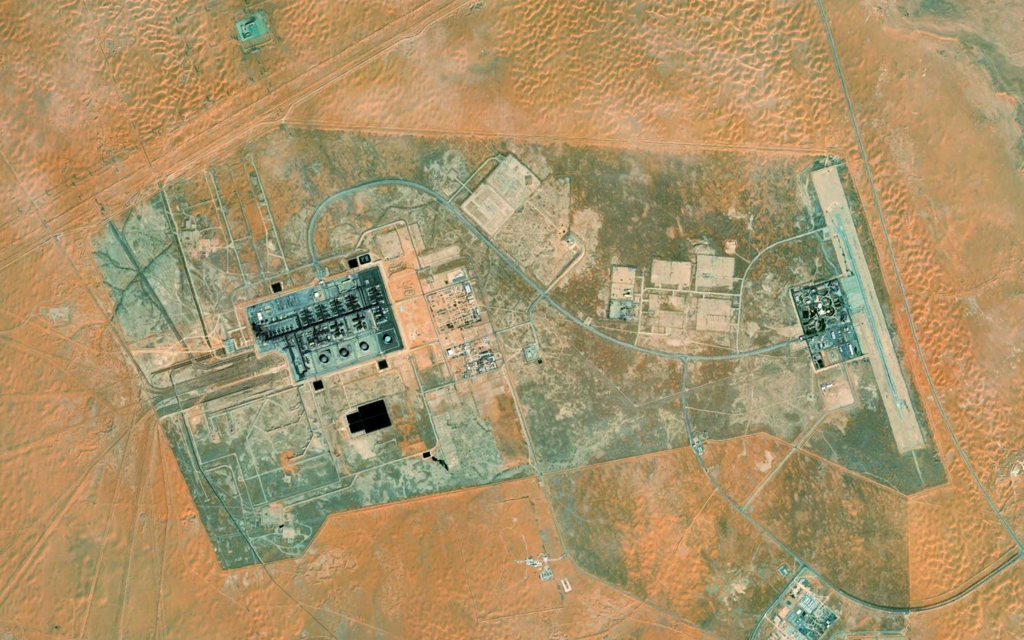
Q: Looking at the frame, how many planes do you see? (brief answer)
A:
none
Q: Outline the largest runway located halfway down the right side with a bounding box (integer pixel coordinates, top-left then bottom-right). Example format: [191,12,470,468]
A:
[811,167,924,453]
